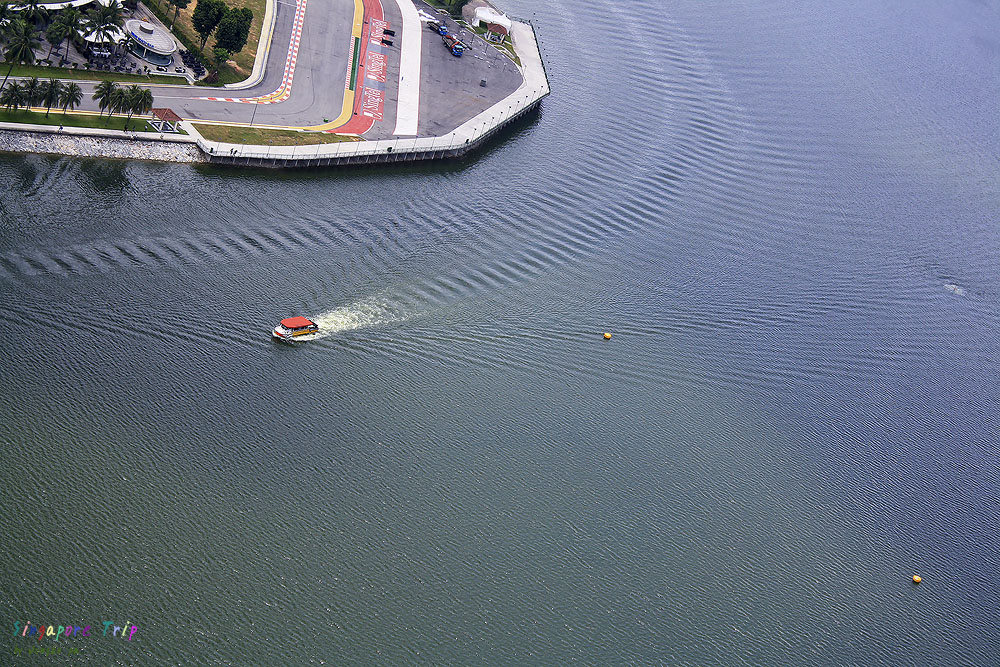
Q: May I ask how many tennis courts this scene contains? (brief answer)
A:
zero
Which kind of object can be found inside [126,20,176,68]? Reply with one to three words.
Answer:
building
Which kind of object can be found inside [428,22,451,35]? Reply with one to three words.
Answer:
vehicle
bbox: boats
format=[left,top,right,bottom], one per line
[274,313,322,336]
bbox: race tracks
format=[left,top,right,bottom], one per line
[0,0,524,142]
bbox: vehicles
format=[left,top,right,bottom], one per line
[428,22,451,35]
[443,35,470,57]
